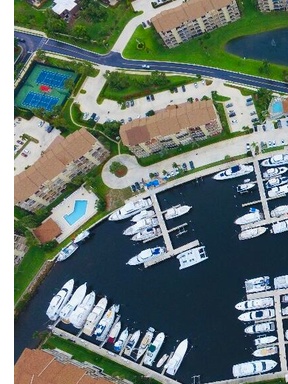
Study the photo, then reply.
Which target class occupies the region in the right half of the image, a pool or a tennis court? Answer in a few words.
pool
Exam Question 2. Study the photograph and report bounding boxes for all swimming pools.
[41,182,98,241]
[267,97,288,119]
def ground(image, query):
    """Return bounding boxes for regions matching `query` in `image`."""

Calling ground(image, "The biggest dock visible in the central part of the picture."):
[142,193,199,269]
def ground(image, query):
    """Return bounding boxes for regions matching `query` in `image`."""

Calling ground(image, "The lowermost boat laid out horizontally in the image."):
[231,359,276,376]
